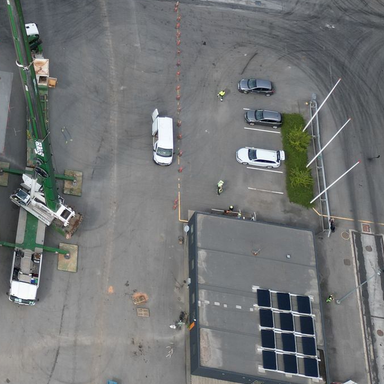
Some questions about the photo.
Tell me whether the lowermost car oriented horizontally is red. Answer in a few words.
No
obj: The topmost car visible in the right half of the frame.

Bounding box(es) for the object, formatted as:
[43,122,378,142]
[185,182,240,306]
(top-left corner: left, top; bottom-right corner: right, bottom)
[237,74,275,94]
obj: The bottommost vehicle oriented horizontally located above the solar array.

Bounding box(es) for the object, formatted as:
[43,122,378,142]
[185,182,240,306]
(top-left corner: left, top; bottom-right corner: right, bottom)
[235,142,288,164]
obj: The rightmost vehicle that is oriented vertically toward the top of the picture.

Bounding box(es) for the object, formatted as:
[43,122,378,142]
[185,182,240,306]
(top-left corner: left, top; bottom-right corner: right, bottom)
[151,107,174,168]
